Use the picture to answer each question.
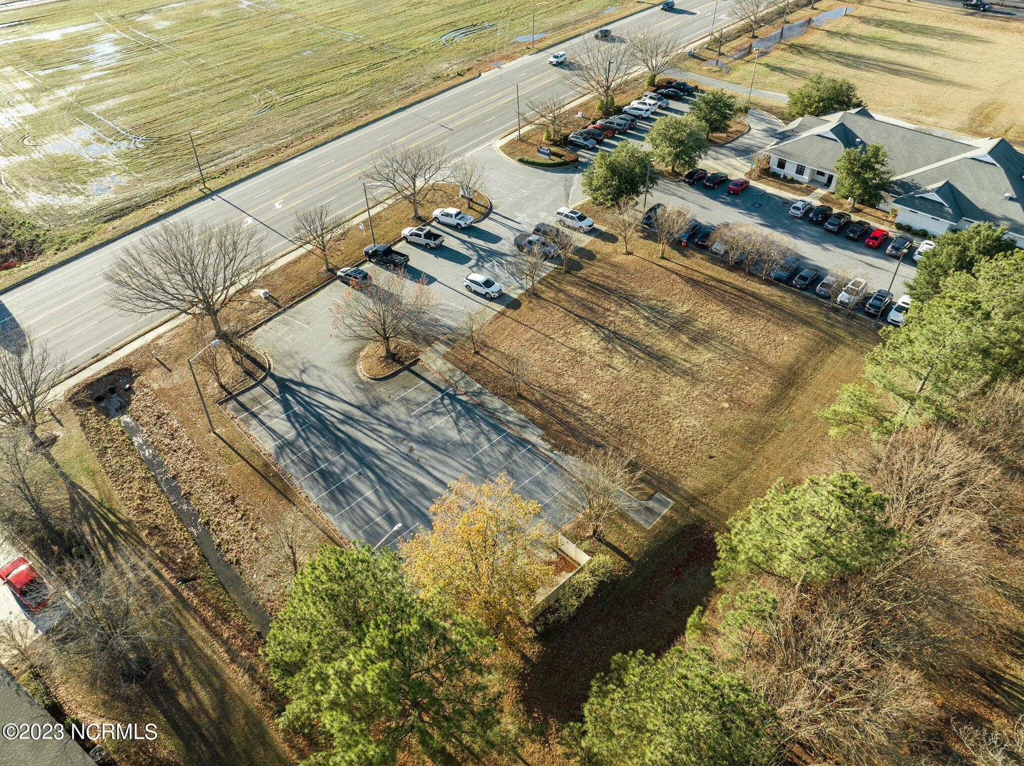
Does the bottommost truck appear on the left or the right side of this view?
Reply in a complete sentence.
It is on the left.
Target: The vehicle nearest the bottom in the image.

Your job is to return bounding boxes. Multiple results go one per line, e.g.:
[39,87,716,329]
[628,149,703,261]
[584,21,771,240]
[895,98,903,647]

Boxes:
[0,557,60,617]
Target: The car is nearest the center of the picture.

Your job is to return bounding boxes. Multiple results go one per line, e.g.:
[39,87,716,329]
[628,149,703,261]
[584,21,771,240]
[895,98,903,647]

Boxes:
[463,273,504,298]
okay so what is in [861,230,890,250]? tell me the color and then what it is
red car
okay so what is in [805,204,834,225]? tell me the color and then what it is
black car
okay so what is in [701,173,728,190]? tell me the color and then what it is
black car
